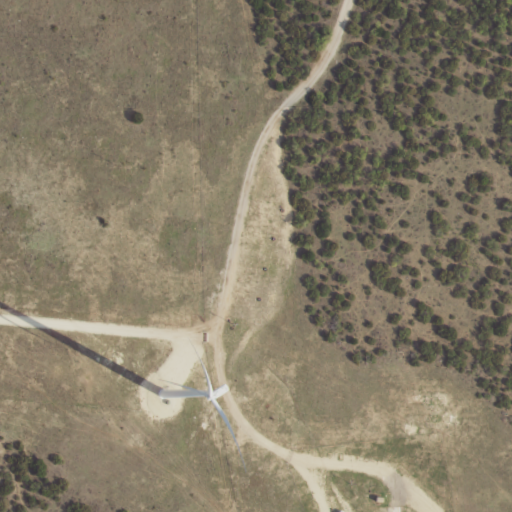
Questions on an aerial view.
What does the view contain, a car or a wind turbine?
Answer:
wind turbine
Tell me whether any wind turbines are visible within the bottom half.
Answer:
Yes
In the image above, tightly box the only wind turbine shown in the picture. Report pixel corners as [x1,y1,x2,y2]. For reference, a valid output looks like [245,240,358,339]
[156,338,248,472]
